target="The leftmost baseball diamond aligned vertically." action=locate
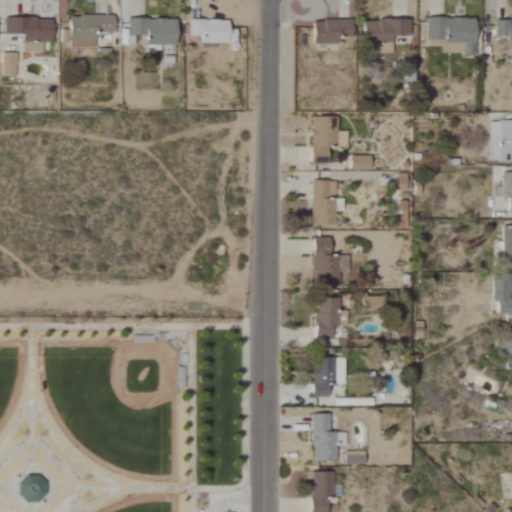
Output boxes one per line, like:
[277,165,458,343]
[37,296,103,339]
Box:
[0,342,24,430]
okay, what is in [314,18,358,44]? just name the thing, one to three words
house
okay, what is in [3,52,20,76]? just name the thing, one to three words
shed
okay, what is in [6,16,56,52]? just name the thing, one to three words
house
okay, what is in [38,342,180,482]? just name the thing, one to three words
baseball field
